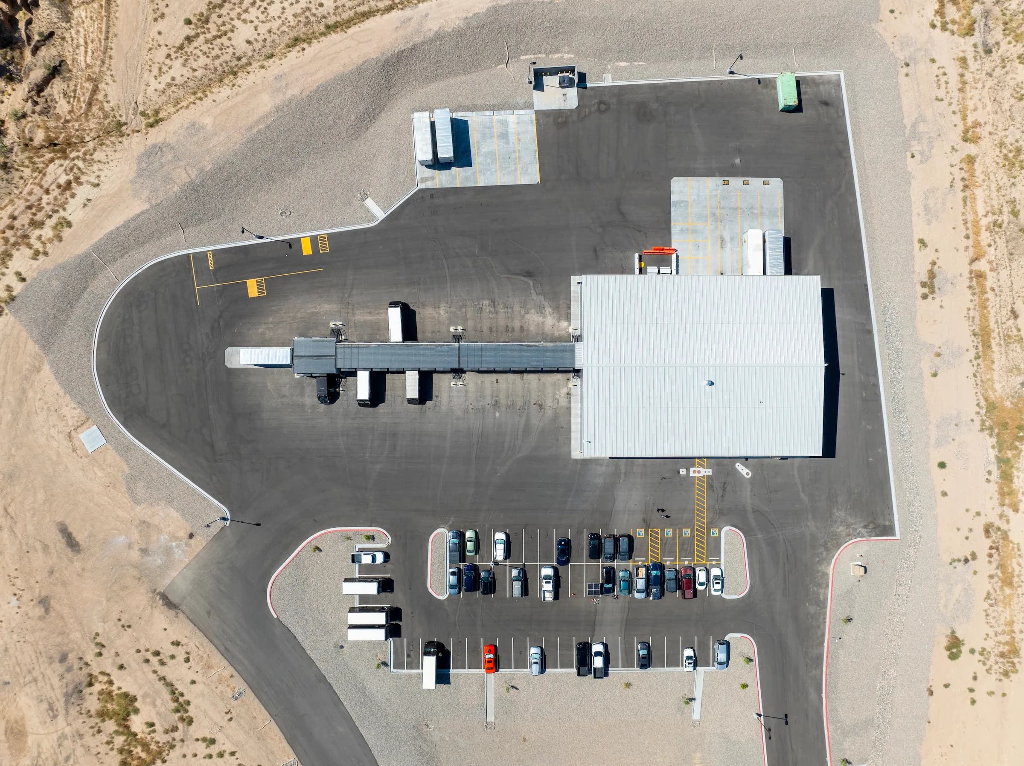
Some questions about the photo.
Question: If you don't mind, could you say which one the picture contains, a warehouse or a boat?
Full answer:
Visible in the photo is a warehouse.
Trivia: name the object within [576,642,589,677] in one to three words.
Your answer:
vehicle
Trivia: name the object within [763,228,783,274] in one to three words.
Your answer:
trailer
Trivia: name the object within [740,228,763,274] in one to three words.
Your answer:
trailer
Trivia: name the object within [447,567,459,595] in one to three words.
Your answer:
vehicle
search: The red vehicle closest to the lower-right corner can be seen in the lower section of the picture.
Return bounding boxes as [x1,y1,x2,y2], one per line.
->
[680,566,694,600]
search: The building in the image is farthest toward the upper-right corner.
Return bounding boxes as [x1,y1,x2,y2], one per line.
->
[577,274,832,457]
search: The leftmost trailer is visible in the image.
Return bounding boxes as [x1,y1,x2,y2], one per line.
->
[241,349,292,364]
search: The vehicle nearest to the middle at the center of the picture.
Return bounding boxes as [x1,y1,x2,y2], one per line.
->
[405,372,422,406]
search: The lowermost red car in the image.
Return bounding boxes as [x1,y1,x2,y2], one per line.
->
[483,644,496,673]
